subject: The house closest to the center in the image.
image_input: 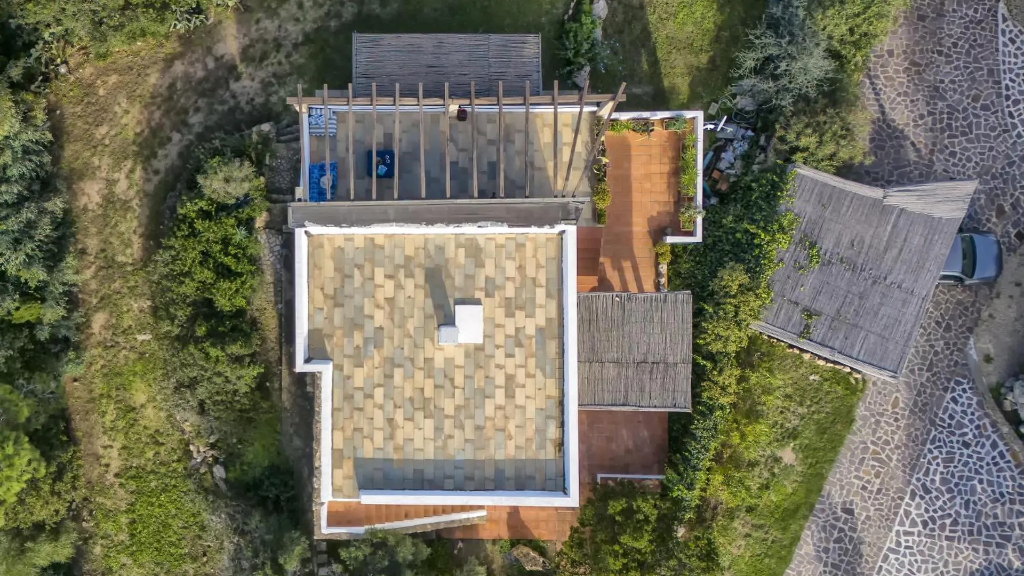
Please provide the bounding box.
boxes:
[288,197,591,505]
